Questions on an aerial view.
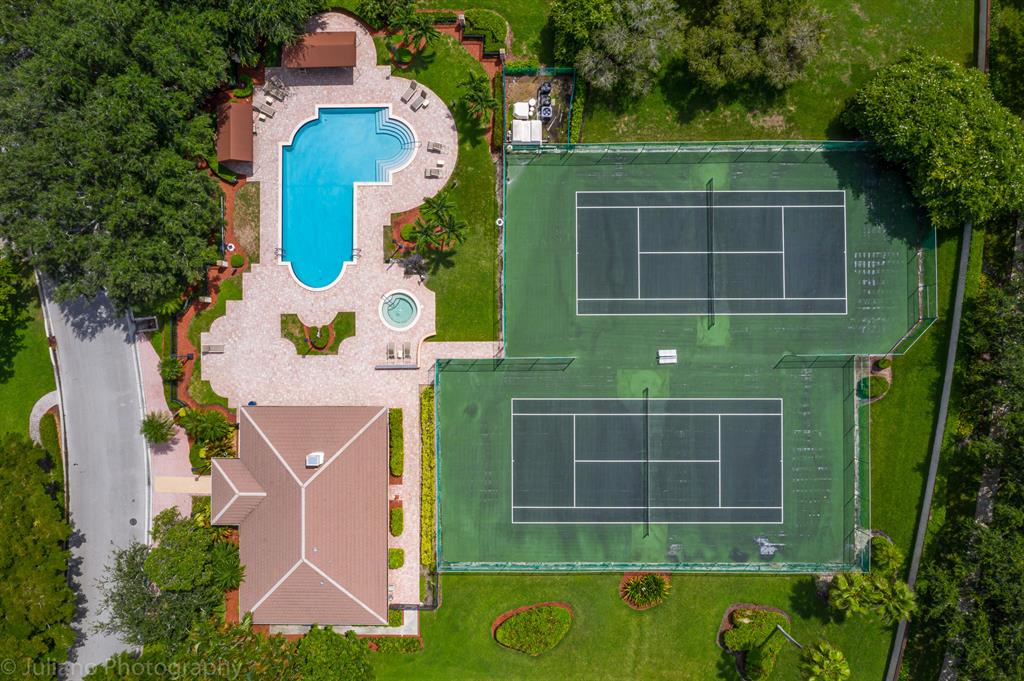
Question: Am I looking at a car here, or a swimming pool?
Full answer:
Looking from above, you can make out a swimming pool.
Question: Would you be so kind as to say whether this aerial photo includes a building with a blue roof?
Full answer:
No, there is no building with a blue roof in the image.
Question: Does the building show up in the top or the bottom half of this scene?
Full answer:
The bottom half of the photo is where the building is.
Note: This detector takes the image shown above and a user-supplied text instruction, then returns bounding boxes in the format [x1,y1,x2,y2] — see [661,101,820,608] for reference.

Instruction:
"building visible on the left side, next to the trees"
[210,405,389,627]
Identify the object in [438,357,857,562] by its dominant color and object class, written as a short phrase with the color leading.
green tennis court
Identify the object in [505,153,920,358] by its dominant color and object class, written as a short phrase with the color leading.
green tennis court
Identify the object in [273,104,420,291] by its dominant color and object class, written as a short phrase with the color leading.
blue swimming pool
